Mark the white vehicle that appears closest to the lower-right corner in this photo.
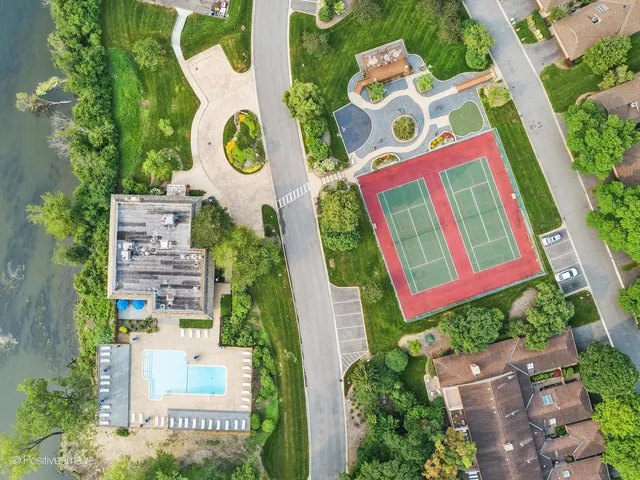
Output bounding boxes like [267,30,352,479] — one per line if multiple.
[554,268,578,281]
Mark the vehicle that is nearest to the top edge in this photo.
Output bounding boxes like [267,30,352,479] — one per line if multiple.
[539,234,562,246]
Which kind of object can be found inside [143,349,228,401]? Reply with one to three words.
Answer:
swimming pool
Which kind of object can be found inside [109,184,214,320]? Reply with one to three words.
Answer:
building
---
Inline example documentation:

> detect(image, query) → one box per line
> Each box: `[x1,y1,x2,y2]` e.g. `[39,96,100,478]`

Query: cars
[554,268,578,281]
[539,234,562,246]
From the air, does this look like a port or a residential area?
residential area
